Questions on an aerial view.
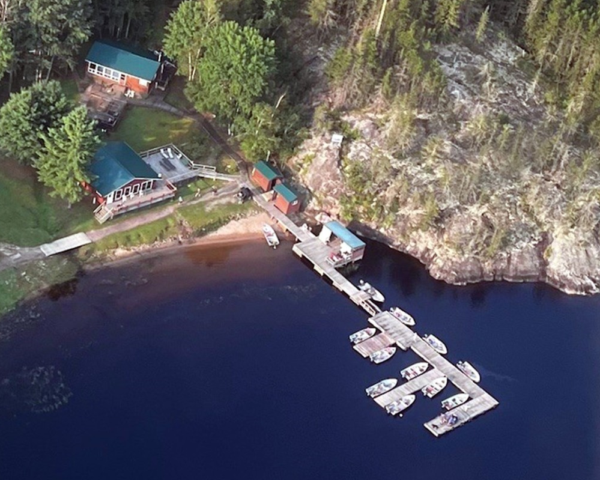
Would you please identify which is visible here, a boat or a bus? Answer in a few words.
boat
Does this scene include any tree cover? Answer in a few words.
Yes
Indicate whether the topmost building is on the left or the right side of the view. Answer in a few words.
left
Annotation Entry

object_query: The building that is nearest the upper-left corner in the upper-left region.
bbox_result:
[85,39,177,99]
